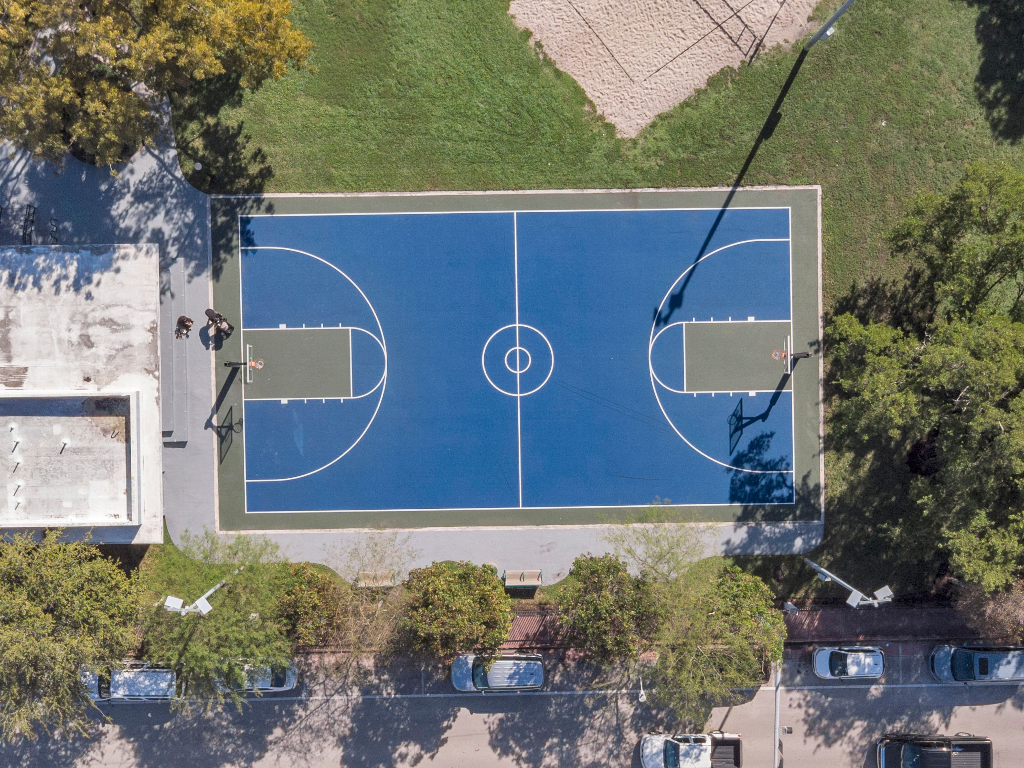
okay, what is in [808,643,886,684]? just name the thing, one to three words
car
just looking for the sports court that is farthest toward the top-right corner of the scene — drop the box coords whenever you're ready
[503,0,817,137]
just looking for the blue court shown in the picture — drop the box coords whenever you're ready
[206,185,825,534]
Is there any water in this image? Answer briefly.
No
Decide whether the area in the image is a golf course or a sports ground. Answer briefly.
sports ground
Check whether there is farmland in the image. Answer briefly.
No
